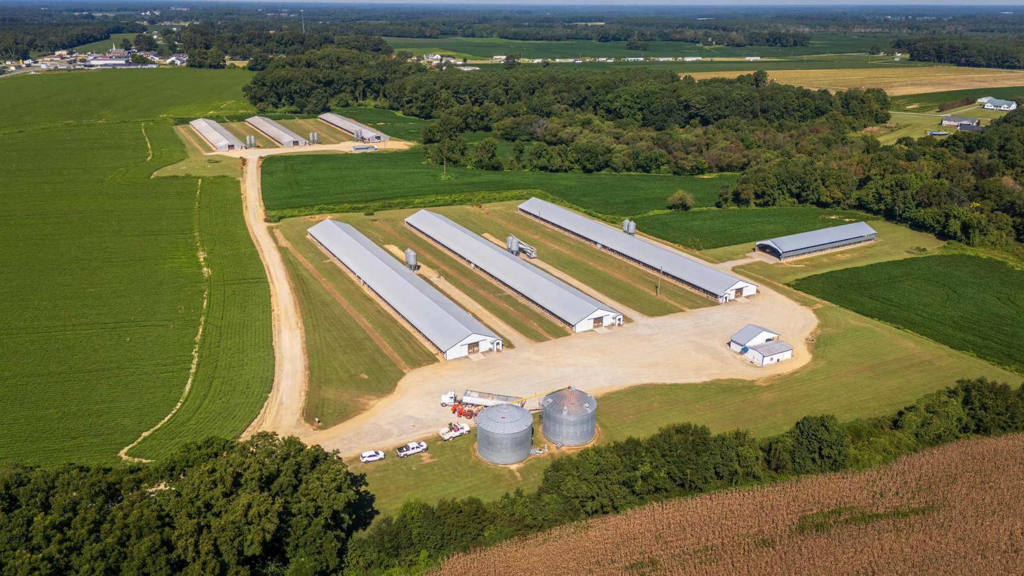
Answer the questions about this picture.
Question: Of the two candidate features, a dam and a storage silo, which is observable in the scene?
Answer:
storage silo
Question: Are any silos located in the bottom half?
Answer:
Yes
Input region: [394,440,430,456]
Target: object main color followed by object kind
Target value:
white vehicle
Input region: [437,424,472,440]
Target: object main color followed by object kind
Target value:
white vehicle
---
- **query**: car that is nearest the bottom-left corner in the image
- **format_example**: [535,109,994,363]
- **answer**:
[359,447,388,461]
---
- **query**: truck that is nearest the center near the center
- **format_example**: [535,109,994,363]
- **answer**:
[515,232,538,256]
